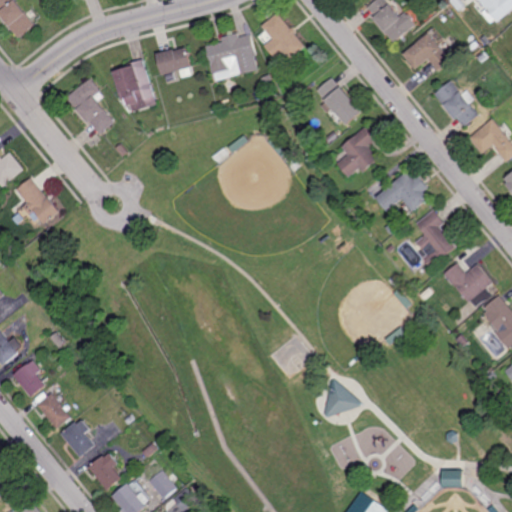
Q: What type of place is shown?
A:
residential area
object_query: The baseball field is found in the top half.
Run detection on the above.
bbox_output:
[217,136,292,211]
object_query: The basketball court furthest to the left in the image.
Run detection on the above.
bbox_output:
[272,334,315,378]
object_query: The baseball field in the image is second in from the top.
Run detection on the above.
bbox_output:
[338,280,408,344]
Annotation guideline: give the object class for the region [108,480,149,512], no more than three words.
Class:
house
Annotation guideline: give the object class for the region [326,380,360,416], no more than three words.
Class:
building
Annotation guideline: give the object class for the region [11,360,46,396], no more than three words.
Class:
house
